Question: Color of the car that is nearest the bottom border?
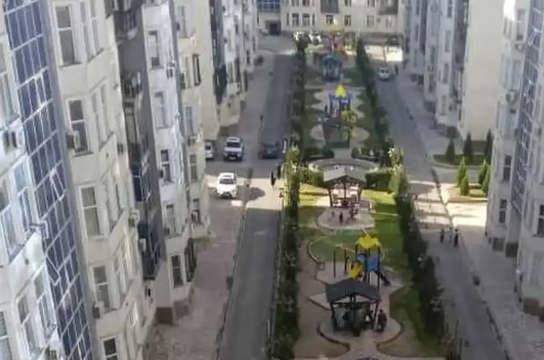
white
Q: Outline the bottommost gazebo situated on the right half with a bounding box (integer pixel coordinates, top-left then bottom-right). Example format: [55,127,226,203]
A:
[325,272,384,333]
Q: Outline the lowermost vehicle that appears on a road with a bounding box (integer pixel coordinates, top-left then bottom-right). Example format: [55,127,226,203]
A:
[214,168,238,196]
